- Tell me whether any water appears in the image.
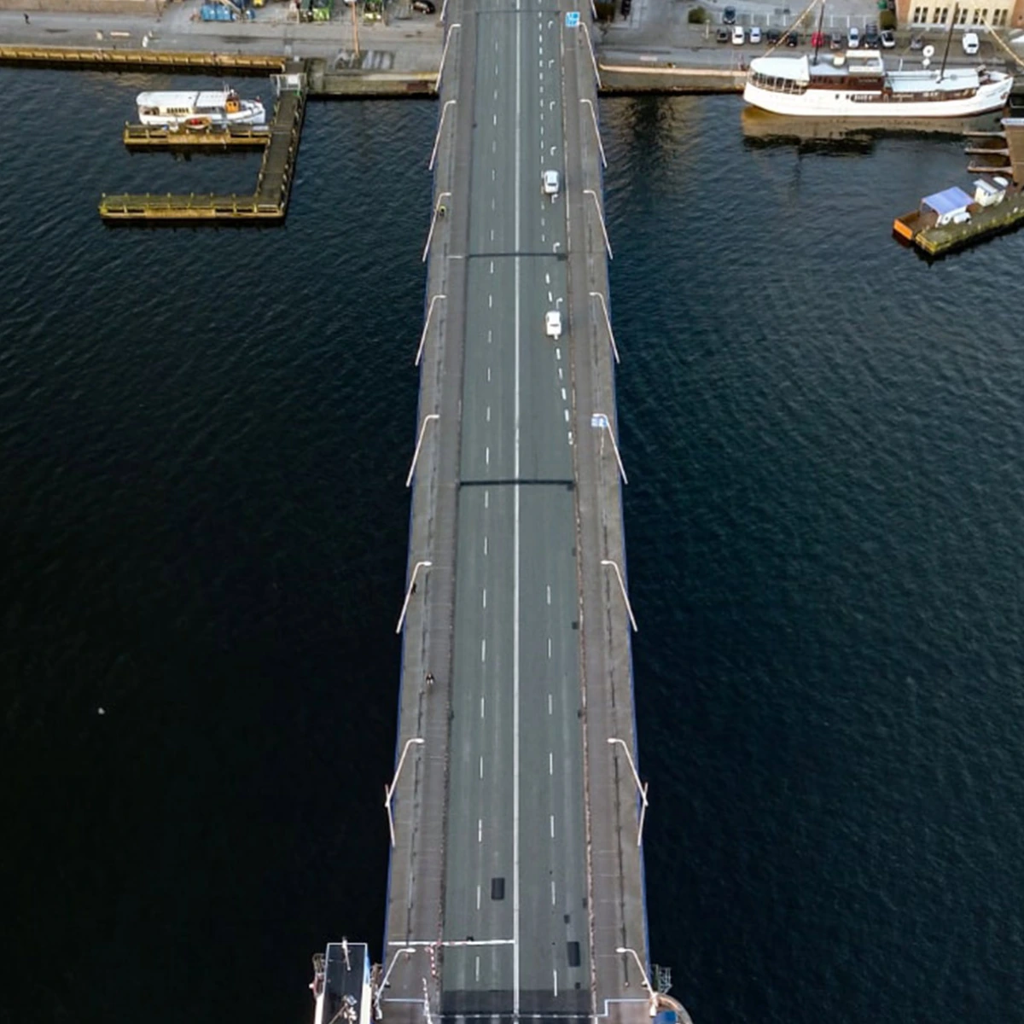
Yes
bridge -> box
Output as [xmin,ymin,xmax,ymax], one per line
[376,0,655,1024]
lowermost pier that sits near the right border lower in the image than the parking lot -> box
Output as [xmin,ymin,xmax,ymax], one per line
[911,195,1024,260]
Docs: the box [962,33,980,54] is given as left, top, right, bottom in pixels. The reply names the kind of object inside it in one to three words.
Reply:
vehicle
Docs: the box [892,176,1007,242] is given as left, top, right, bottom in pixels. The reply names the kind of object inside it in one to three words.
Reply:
vessel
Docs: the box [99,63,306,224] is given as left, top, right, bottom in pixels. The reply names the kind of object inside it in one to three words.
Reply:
pier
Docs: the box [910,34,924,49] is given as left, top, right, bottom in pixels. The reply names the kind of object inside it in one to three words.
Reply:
car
